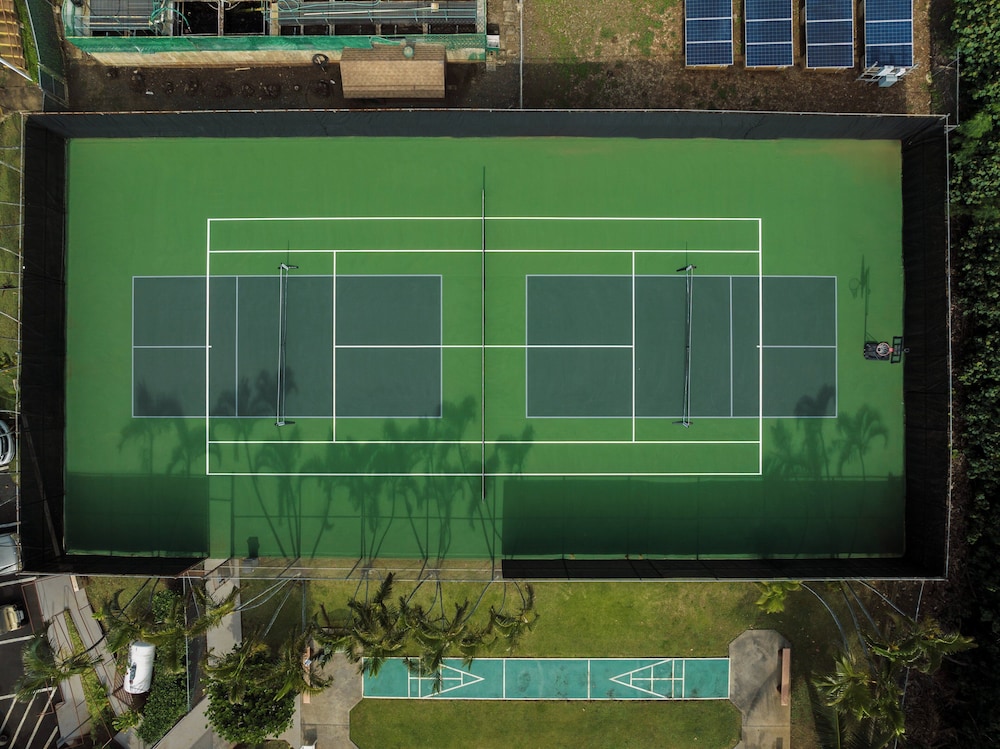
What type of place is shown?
sports ground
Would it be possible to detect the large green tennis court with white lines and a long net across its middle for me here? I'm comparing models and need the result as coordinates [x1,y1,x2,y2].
[65,139,904,558]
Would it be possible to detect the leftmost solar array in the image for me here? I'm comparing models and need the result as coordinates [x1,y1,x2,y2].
[683,0,734,72]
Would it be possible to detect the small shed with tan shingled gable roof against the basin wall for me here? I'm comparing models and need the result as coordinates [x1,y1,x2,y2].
[343,46,443,110]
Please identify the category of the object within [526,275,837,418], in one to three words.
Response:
sports court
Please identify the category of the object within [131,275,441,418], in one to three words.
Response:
sports court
